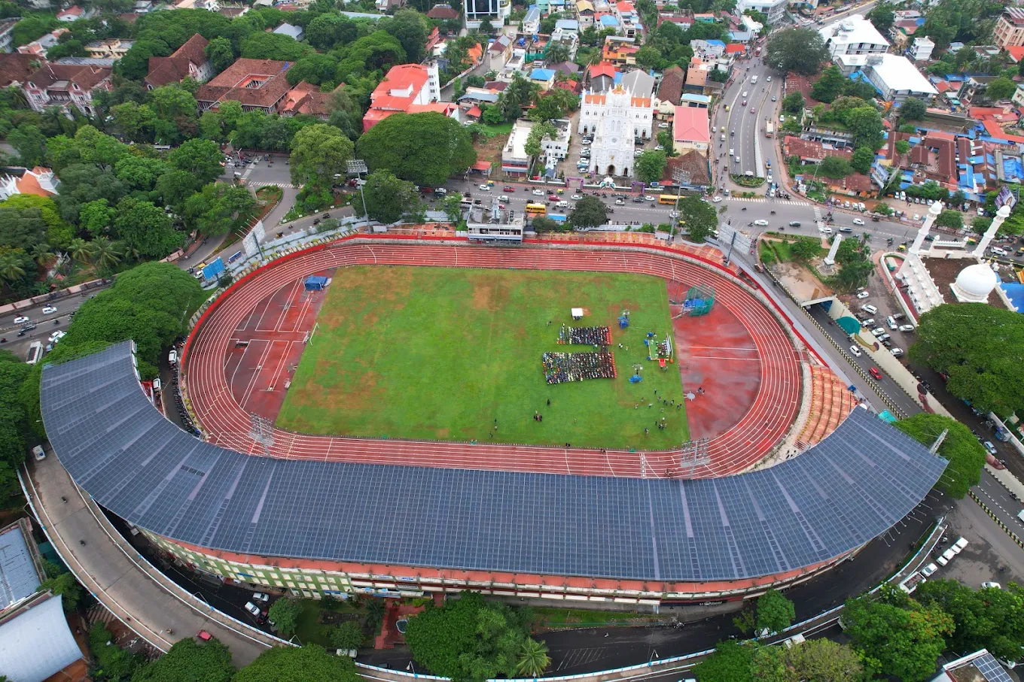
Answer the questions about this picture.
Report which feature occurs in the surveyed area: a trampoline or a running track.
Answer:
running track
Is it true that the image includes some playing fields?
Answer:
Yes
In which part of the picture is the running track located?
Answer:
center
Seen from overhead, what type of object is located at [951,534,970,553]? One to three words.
vehicle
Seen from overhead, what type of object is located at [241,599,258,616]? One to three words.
car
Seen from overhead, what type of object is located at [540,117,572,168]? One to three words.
house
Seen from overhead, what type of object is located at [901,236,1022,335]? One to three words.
building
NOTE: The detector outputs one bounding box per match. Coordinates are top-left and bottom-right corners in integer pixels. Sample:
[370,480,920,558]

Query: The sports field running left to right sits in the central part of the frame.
[272,265,688,451]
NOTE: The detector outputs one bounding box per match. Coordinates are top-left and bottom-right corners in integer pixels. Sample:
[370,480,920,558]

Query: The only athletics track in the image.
[183,242,804,477]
